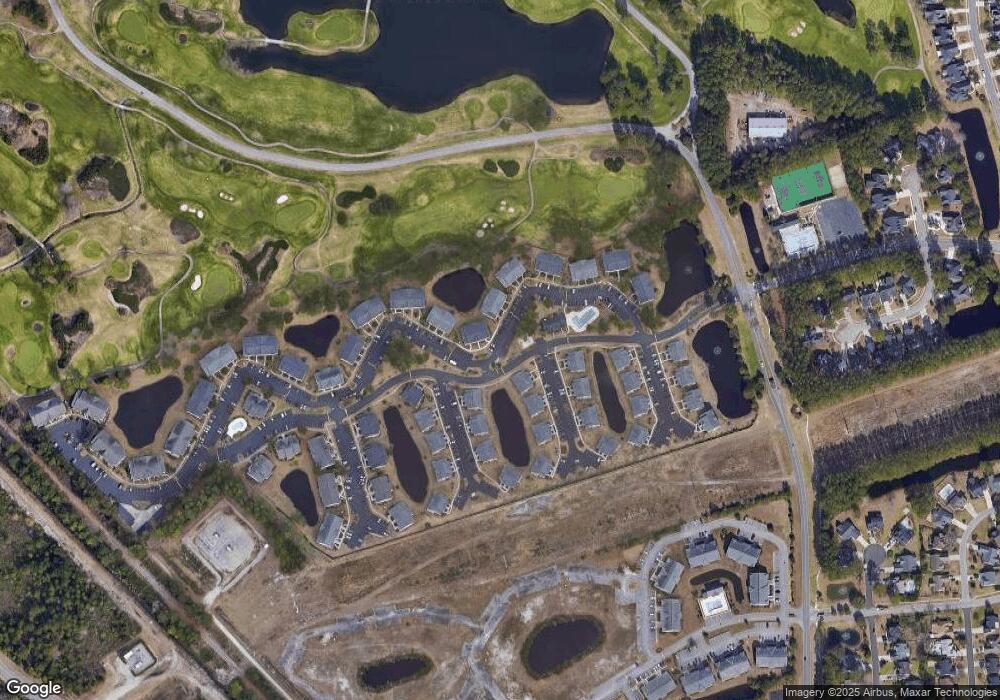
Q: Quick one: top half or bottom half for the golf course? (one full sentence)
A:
The top half of the photo is where the golf course is.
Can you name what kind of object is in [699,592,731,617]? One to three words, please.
swimming pool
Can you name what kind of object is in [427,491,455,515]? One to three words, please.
building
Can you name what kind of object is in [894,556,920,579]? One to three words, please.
house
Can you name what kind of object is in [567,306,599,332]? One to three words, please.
swimming pool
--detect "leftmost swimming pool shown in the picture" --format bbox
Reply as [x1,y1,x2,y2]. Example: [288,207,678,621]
[229,418,247,437]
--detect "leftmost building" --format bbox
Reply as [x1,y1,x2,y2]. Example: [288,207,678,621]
[30,397,66,431]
